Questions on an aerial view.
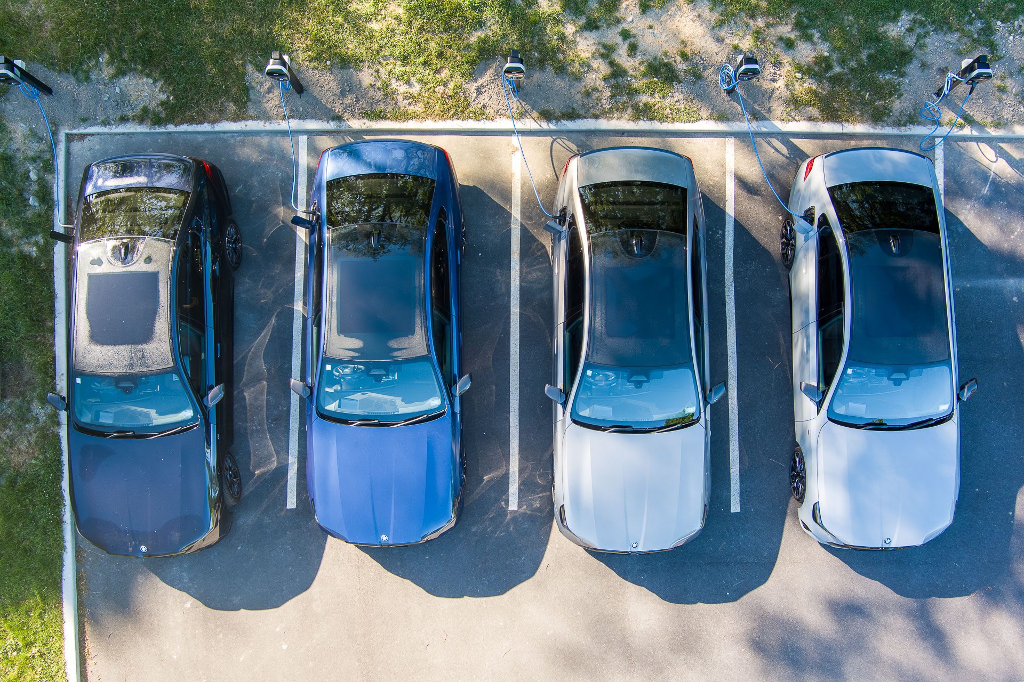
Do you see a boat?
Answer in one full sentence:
No, I find no boat anywhere in the image.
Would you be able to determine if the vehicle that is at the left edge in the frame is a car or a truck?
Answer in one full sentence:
It looks like the vehicle that is at the left edge is a car.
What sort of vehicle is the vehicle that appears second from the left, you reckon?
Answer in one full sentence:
It looks like the vehicle that appears second from the left is a car.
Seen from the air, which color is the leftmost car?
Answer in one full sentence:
The leftmost car is blue.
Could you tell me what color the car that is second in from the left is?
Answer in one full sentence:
The car that is second in from the left looks blue in the image.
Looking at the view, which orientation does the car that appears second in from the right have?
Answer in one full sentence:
In this picture, the car that appears second in from the right is oriented from top to bottom.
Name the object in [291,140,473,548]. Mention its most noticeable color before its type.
blue car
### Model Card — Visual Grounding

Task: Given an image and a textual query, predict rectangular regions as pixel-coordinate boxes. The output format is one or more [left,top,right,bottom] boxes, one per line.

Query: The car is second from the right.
[538,145,726,555]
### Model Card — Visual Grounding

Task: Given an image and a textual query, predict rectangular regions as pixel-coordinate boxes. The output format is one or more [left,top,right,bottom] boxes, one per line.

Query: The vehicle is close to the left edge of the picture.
[47,151,244,558]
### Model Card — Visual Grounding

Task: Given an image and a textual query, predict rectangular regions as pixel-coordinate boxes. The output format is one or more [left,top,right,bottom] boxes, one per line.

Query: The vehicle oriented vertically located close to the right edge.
[778,141,981,551]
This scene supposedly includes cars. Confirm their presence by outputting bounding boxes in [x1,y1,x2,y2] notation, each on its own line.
[291,140,473,548]
[538,145,726,555]
[778,141,981,551]
[47,151,244,558]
